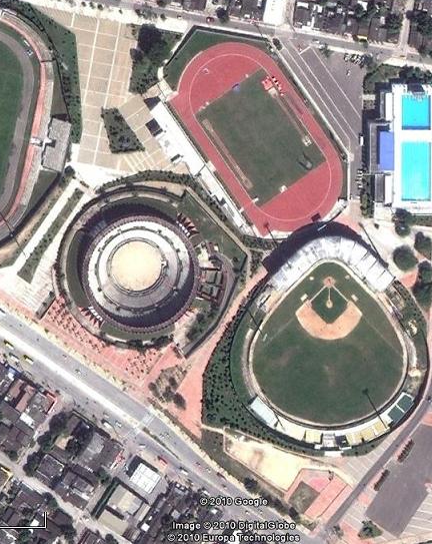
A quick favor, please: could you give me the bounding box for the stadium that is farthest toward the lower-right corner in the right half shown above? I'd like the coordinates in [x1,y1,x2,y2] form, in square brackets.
[240,225,418,449]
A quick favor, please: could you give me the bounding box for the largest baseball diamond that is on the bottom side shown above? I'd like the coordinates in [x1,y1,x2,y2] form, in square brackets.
[252,263,404,425]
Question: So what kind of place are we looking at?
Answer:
sports ground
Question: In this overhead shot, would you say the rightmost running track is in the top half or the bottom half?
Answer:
top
